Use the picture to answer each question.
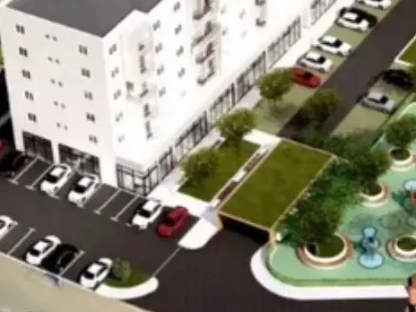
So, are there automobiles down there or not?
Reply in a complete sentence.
Yes, the picture does show an automobile.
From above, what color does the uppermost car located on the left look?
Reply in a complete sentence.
From above, the uppermost car located on the left appears black.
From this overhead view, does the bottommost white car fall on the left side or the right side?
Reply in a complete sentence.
You can find the bottommost white car on the left side of the picture.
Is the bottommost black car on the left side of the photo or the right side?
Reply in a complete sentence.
It is on the left.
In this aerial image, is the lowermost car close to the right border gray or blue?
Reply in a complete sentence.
The lowermost car close to the right border looks gray in the image.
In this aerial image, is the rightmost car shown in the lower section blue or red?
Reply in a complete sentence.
The color of the rightmost car shown in the lower section is red.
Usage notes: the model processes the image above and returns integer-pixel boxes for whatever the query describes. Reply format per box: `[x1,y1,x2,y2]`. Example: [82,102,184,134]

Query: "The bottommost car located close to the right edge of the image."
[361,89,399,112]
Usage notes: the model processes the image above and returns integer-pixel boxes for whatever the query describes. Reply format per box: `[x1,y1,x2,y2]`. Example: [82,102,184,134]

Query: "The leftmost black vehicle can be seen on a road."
[0,148,28,176]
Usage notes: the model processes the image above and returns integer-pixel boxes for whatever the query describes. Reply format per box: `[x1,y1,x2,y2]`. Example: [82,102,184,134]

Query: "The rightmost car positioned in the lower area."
[158,207,190,235]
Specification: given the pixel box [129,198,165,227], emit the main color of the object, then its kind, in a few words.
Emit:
white car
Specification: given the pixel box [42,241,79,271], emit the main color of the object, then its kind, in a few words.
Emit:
black car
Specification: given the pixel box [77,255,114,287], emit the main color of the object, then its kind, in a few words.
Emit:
white car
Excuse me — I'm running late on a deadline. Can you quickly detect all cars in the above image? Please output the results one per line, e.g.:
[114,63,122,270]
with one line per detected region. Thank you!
[66,174,101,202]
[297,51,335,72]
[314,35,352,55]
[336,9,373,29]
[287,67,324,88]
[0,148,28,176]
[0,214,12,234]
[378,67,416,89]
[359,0,391,9]
[129,198,165,227]
[77,255,114,287]
[42,241,79,271]
[361,89,399,112]
[158,207,190,235]
[24,233,60,263]
[37,164,72,192]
